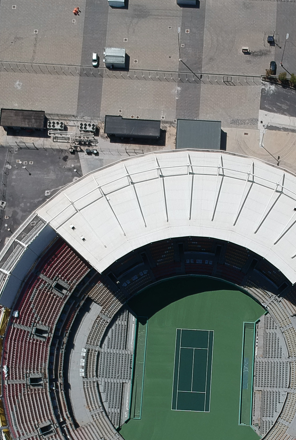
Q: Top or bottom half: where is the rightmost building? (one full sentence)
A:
You can find the rightmost building in the top half.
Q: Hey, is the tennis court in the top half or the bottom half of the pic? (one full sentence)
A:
You can find the tennis court in the bottom half.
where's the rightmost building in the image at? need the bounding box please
[177,120,221,149]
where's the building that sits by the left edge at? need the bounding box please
[0,108,46,131]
